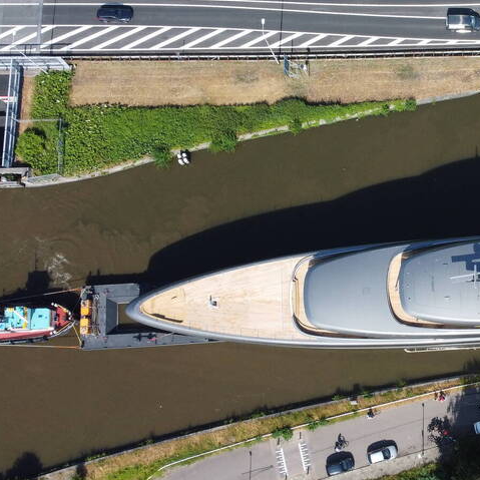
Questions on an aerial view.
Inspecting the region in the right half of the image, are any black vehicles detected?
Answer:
Yes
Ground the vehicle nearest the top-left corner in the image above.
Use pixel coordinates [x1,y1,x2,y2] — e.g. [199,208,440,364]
[96,5,134,23]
